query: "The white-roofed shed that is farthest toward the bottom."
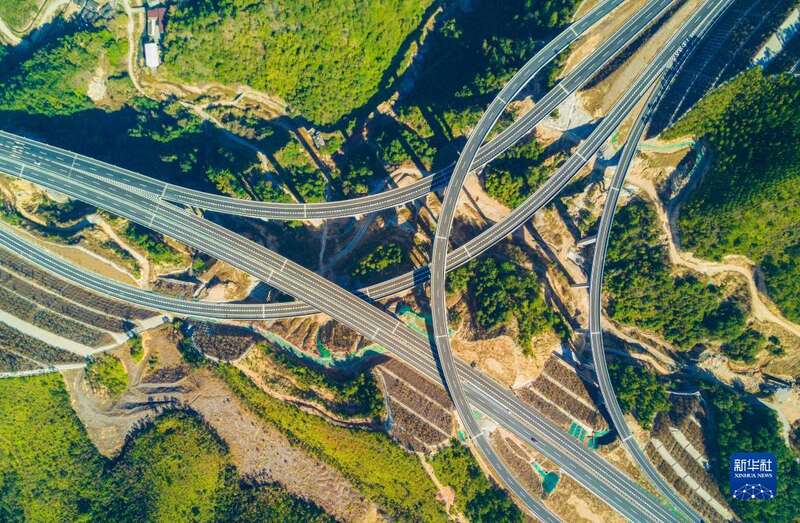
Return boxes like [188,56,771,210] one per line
[145,42,160,69]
